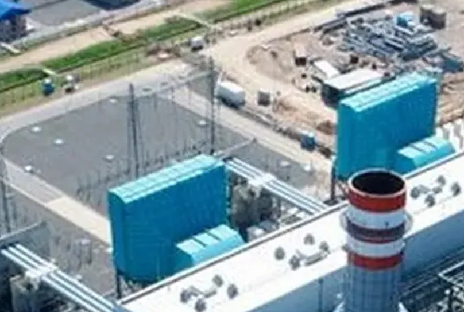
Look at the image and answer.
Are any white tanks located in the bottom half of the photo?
No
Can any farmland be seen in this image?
No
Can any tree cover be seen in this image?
No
